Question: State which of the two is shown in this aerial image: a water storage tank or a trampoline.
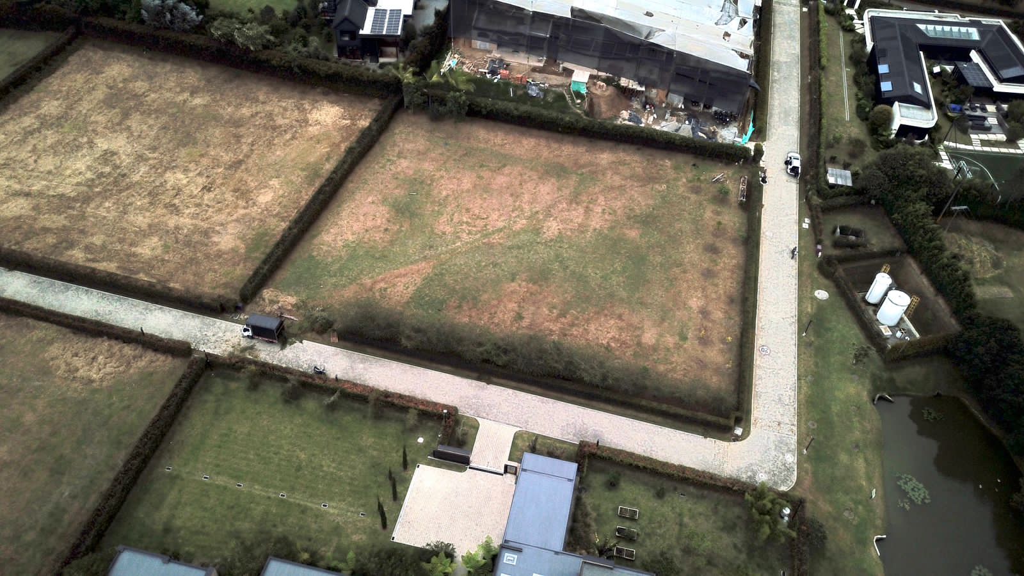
water storage tank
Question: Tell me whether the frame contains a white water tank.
Yes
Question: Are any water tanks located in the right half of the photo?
Yes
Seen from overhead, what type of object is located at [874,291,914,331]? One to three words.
water tank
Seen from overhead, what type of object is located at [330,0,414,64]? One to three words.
house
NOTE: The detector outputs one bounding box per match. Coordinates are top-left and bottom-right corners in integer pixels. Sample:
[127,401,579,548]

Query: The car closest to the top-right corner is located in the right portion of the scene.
[781,156,803,178]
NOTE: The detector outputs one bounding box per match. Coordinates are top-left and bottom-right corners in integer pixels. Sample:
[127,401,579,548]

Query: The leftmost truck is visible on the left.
[238,312,288,344]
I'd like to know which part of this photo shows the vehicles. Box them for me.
[313,366,325,375]
[781,156,803,178]
[238,312,288,344]
[792,247,798,258]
